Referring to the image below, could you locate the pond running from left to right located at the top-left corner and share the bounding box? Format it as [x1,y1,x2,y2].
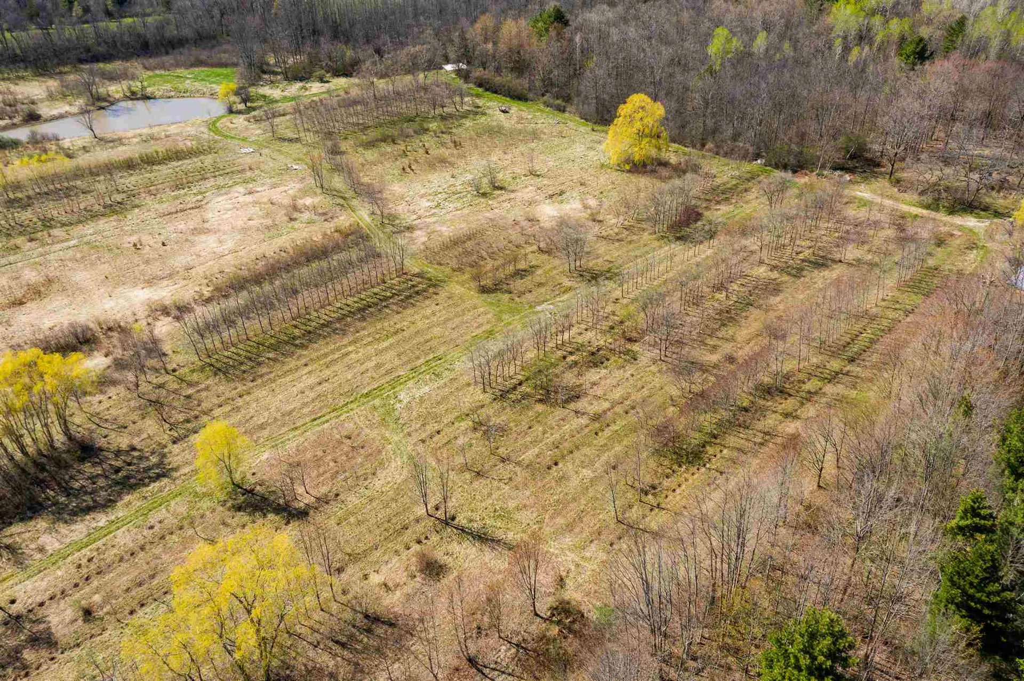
[0,97,232,142]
